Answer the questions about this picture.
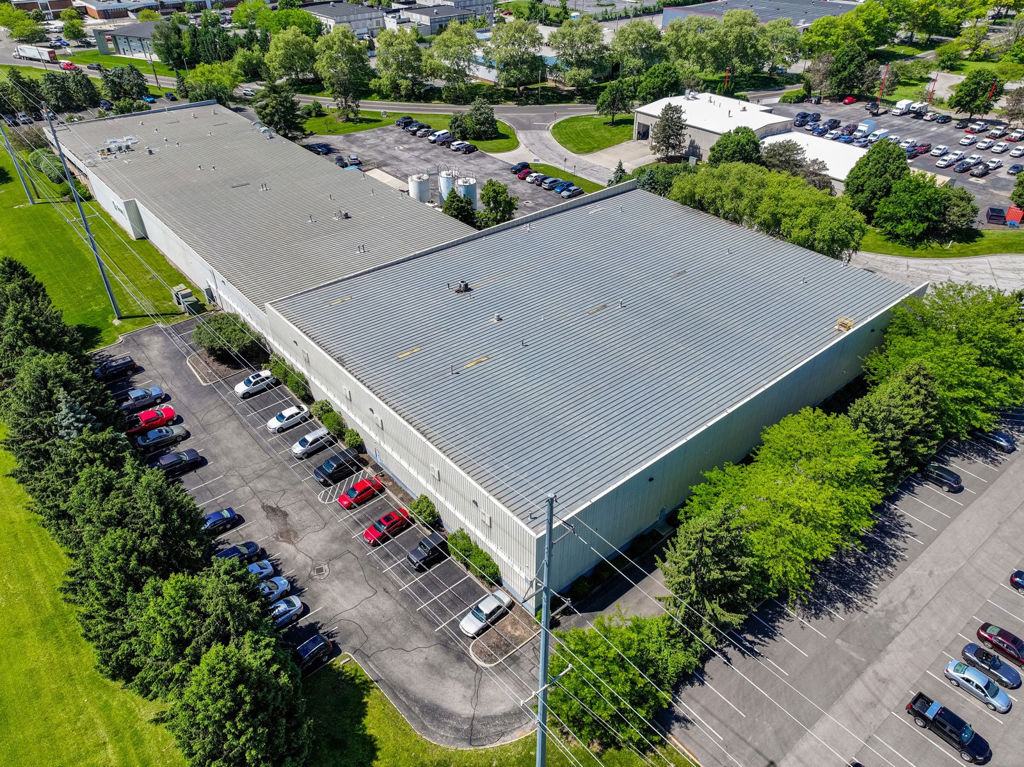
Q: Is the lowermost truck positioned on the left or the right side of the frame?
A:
right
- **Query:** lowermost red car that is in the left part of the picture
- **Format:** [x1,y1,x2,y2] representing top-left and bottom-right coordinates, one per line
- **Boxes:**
[362,509,414,546]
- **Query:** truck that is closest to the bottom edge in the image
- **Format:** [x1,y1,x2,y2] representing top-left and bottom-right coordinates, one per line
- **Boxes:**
[901,687,994,767]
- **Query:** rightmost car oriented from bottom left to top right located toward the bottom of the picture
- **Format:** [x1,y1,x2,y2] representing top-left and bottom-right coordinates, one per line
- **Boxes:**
[449,597,506,645]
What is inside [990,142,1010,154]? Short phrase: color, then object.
white vehicle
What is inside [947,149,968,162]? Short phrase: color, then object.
white vehicle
